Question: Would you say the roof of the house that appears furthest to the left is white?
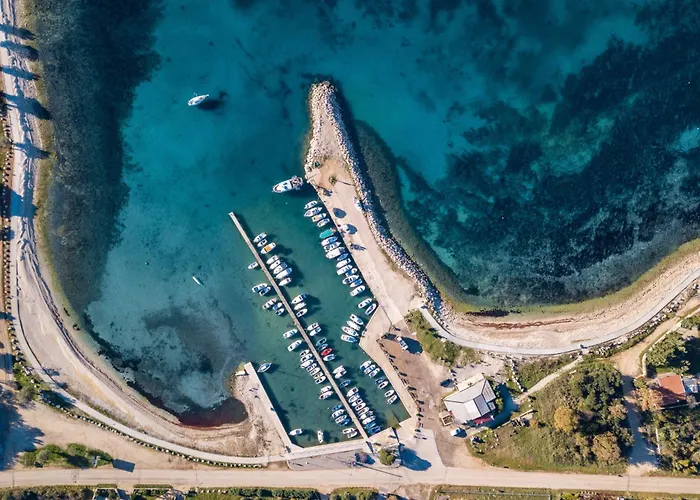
Yes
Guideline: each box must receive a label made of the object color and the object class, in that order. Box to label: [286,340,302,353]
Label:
white boat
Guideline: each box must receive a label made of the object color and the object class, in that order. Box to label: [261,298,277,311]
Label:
white boat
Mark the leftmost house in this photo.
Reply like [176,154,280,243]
[443,371,496,424]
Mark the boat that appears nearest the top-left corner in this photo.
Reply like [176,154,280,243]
[188,90,209,107]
